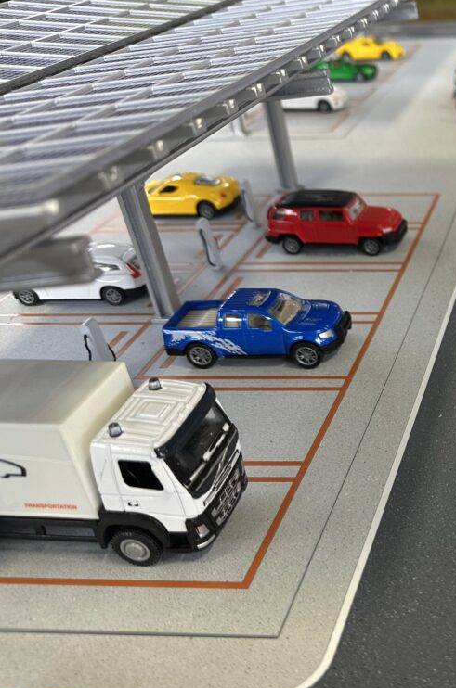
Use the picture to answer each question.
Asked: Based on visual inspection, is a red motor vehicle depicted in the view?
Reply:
Yes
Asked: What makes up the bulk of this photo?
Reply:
paved ground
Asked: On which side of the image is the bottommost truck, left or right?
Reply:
left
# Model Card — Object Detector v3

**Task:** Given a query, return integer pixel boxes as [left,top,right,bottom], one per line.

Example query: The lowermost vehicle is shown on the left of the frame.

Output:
[0,363,252,567]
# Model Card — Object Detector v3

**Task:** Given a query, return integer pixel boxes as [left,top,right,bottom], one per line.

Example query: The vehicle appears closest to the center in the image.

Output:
[161,283,352,366]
